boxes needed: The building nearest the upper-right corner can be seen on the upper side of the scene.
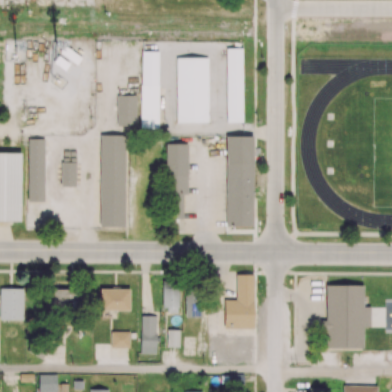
[228,47,244,122]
